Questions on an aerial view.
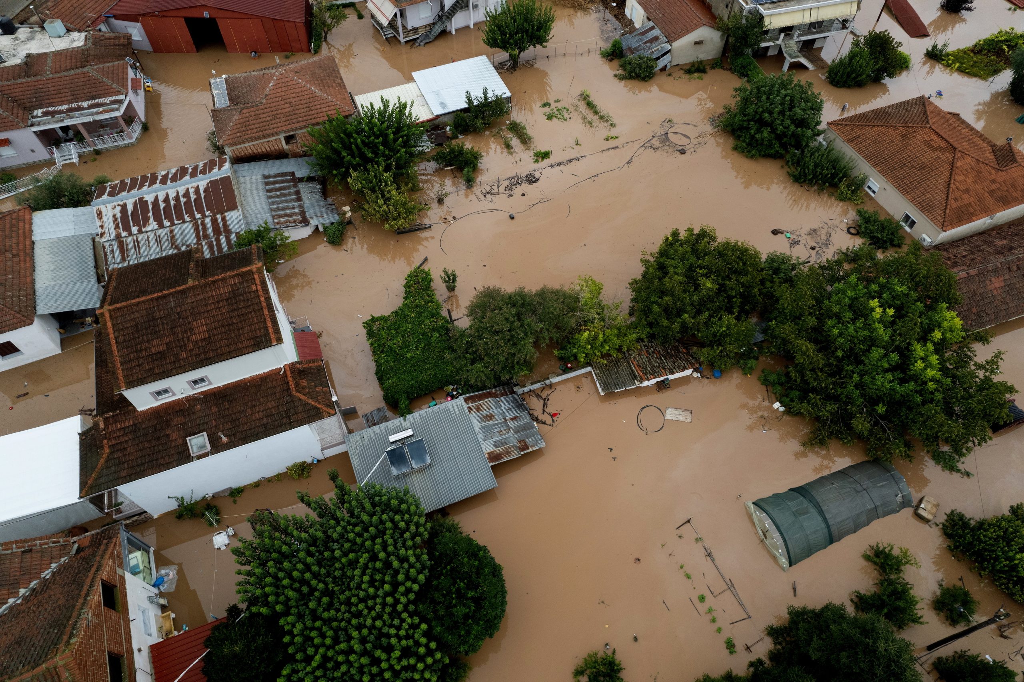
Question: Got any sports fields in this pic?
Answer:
No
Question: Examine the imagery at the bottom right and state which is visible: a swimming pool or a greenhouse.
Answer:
greenhouse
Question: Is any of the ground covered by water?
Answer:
Yes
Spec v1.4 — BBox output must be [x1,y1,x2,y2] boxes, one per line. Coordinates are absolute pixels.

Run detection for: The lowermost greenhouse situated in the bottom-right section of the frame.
[743,452,921,569]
